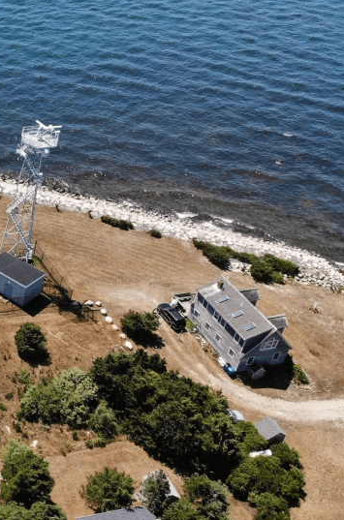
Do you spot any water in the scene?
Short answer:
Yes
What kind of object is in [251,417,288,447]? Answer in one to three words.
shed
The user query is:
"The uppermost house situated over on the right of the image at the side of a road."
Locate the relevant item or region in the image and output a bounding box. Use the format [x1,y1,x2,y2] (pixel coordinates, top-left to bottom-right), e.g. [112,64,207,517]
[188,277,298,379]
